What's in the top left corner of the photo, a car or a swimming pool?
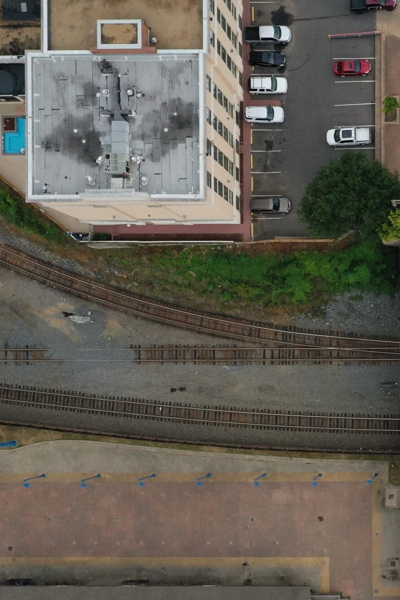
swimming pool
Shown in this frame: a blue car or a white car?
white car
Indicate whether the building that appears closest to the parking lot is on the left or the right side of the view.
left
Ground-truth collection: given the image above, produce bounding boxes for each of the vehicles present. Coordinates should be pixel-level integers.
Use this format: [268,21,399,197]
[248,75,288,95]
[248,50,287,69]
[245,104,286,124]
[349,0,396,16]
[333,58,372,77]
[246,23,293,45]
[326,125,372,146]
[251,196,292,215]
